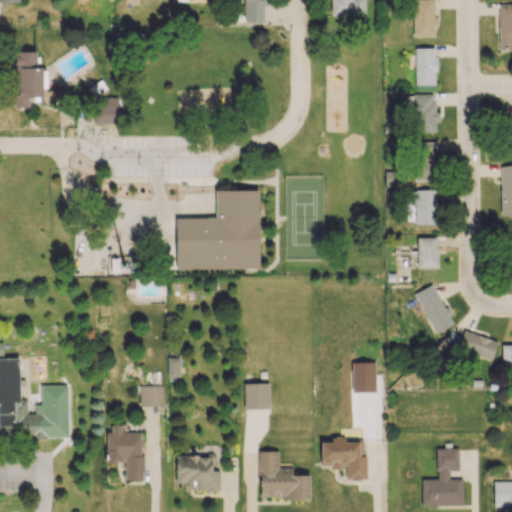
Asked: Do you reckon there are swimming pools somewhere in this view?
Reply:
Yes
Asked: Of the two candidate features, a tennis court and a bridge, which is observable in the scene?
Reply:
tennis court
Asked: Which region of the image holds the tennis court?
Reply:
center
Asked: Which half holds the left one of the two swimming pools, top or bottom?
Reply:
top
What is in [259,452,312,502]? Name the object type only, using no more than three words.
house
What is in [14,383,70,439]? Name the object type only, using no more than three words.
building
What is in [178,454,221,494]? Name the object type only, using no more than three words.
house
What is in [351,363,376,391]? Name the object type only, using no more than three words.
building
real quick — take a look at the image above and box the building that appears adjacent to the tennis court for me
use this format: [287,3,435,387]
[176,190,262,270]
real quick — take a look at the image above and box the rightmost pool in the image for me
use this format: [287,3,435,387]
[127,278,167,304]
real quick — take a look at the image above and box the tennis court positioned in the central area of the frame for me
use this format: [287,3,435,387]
[286,175,324,262]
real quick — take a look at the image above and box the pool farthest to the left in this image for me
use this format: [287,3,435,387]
[47,46,96,86]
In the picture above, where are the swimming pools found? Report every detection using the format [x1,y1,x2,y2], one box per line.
[47,46,96,86]
[127,278,167,304]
